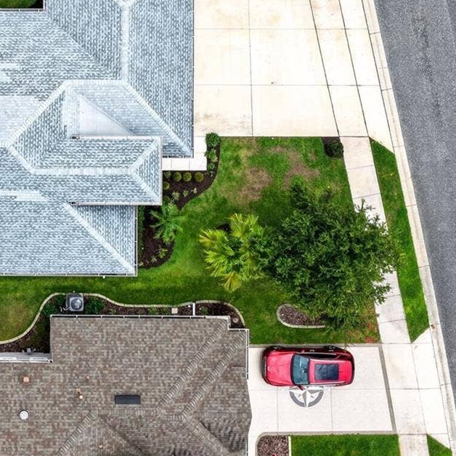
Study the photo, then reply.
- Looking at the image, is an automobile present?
Yes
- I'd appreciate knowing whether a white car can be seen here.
No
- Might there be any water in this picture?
No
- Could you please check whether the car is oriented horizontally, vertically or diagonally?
horizontally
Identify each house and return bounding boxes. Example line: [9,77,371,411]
[0,302,252,456]
[0,0,197,278]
